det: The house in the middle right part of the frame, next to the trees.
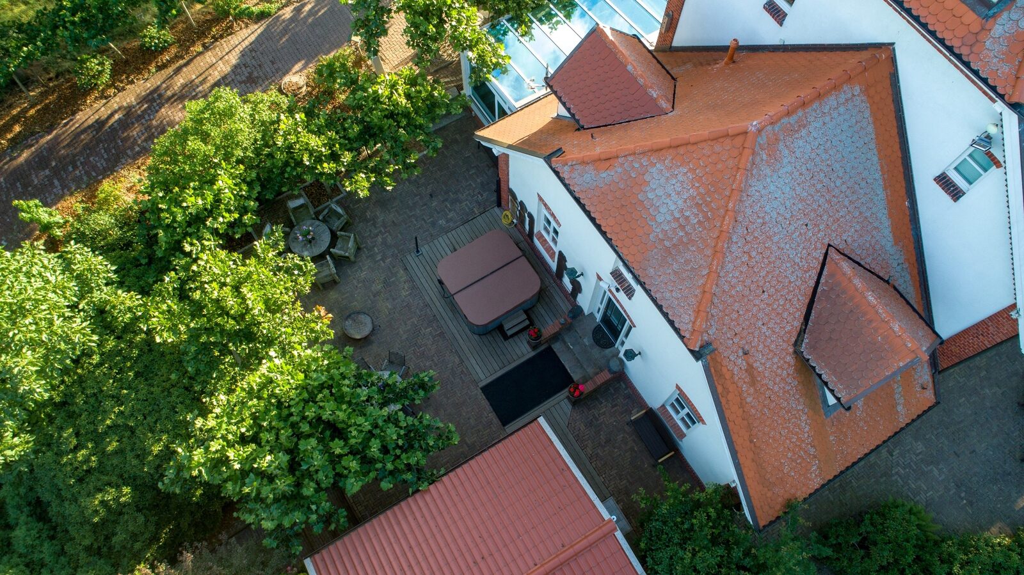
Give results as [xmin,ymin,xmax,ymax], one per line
[475,0,1024,534]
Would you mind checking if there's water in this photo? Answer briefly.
No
